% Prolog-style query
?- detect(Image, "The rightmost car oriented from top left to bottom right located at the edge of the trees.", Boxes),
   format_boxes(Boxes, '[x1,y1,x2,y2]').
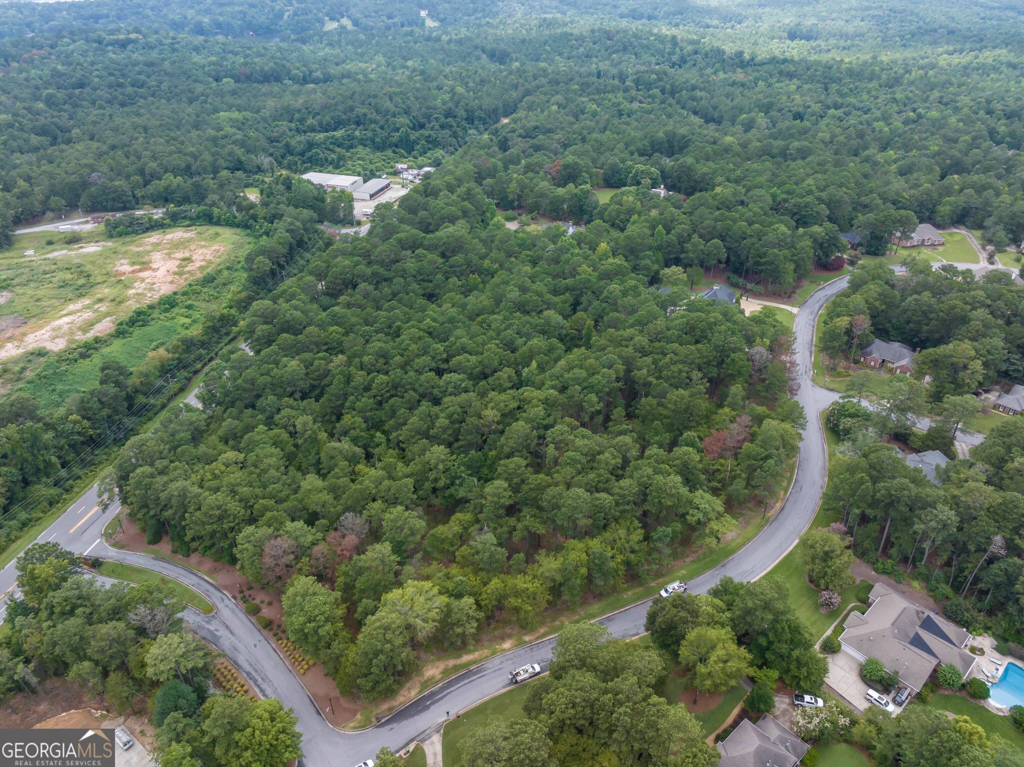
[862,686,897,714]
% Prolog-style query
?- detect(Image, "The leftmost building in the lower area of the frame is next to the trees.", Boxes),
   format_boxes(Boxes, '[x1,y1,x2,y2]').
[712,713,811,767]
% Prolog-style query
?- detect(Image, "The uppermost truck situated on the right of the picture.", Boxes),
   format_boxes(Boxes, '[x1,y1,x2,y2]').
[658,577,689,598]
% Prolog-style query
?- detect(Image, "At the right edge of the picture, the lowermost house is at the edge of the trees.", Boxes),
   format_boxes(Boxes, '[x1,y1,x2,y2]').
[837,582,977,697]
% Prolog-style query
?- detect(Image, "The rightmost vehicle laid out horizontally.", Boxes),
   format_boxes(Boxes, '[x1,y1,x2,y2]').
[792,692,825,708]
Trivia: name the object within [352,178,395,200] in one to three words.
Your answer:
building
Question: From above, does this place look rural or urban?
rural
